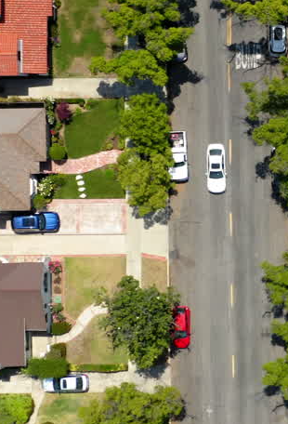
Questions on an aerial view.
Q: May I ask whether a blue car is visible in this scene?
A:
Yes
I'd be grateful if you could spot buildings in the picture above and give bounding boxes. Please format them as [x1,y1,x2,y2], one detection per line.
[0,0,53,77]
[0,263,48,369]
[0,109,48,214]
